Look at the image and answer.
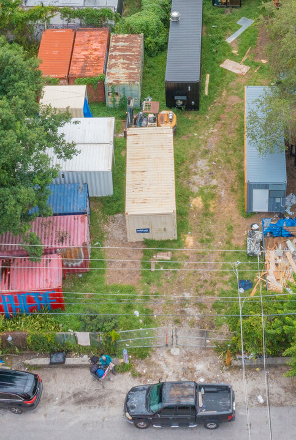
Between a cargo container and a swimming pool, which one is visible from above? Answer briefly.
cargo container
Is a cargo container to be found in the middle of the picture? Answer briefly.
Yes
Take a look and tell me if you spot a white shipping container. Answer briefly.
Yes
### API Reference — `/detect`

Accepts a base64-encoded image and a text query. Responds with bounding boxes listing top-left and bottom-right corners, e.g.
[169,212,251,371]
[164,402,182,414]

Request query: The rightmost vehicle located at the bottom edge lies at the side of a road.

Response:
[124,379,236,427]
